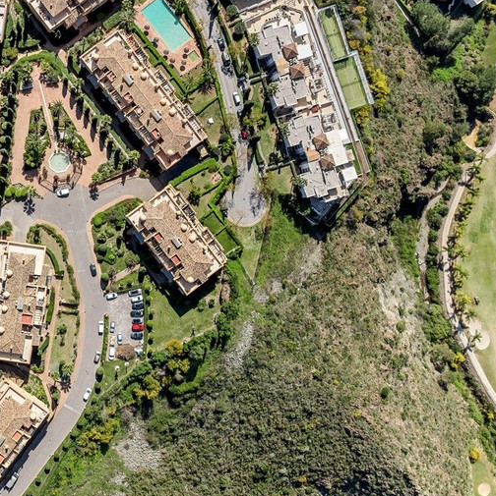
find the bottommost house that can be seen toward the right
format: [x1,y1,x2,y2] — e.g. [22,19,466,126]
[293,151,366,223]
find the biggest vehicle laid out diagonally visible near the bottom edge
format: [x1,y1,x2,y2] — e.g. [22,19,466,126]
[3,473,17,490]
